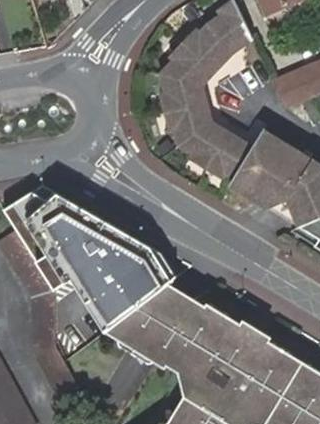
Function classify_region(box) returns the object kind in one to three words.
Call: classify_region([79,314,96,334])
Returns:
car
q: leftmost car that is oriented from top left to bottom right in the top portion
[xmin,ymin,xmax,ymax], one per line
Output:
[110,135,128,156]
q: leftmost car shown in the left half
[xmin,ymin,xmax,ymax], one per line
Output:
[64,324,81,344]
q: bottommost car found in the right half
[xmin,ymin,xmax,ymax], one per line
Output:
[220,92,241,108]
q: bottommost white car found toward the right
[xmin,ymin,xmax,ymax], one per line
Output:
[242,70,258,90]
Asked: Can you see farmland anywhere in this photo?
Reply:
No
